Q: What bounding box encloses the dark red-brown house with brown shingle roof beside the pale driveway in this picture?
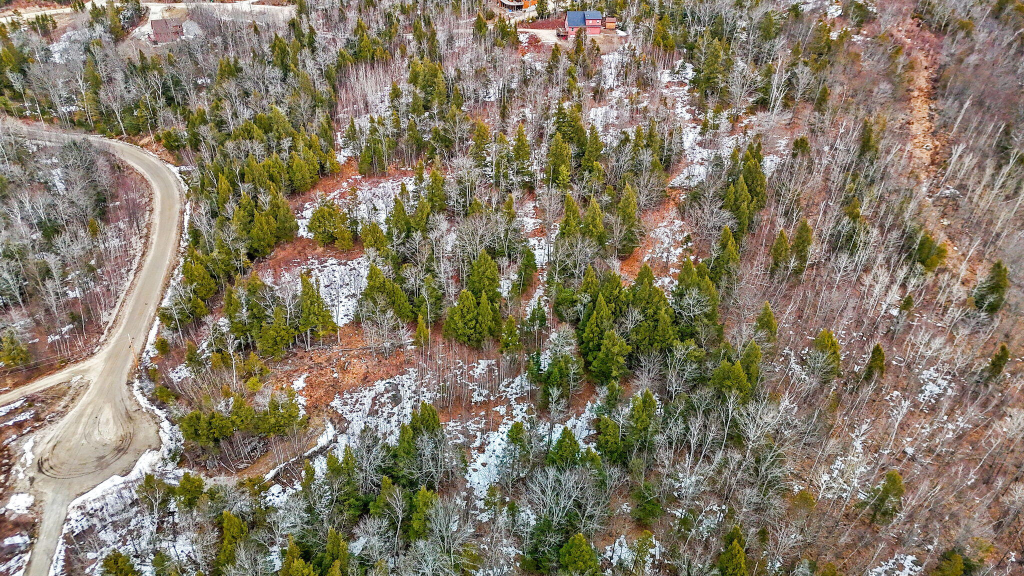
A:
[135,12,195,43]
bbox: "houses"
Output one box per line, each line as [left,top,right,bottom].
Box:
[135,12,195,43]
[552,12,601,39]
[499,0,536,12]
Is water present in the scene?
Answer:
No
